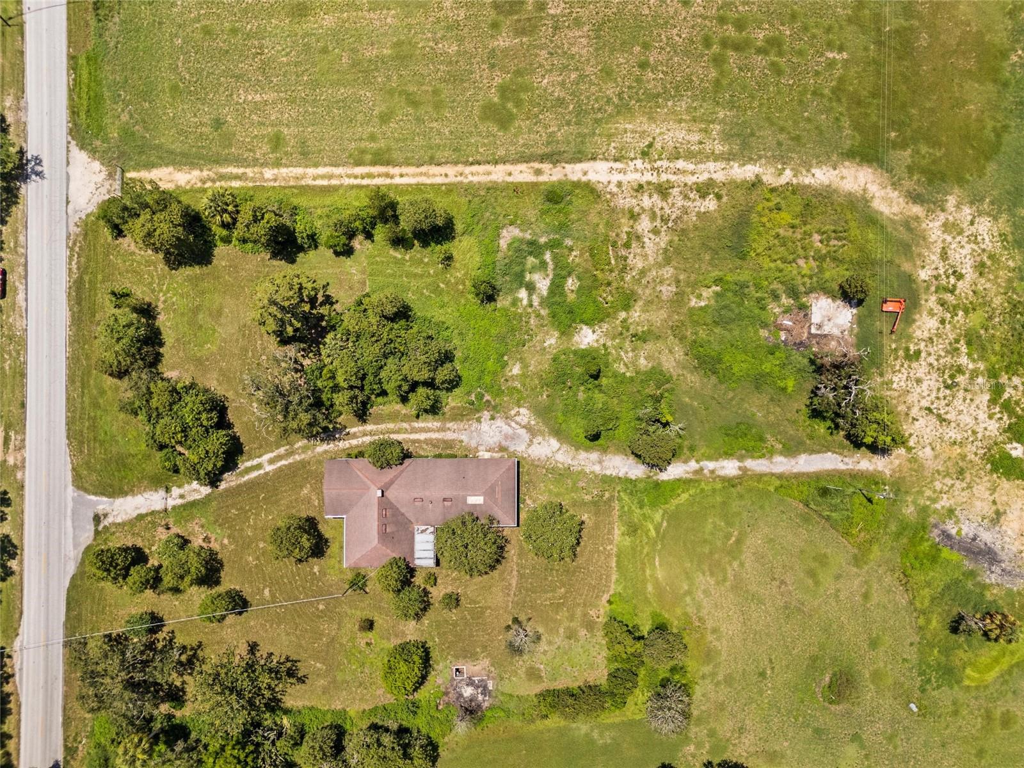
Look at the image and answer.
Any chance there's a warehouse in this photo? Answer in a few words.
No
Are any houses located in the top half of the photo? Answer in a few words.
No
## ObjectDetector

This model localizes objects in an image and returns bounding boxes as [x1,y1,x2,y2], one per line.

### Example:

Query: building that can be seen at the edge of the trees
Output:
[324,458,517,568]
